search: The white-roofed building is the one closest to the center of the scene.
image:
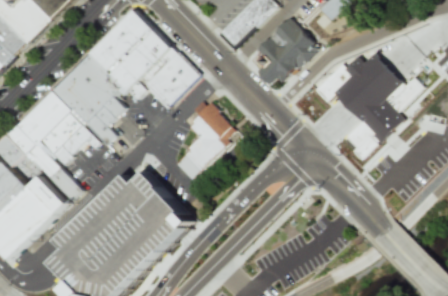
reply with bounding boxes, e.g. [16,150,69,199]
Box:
[179,102,245,176]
